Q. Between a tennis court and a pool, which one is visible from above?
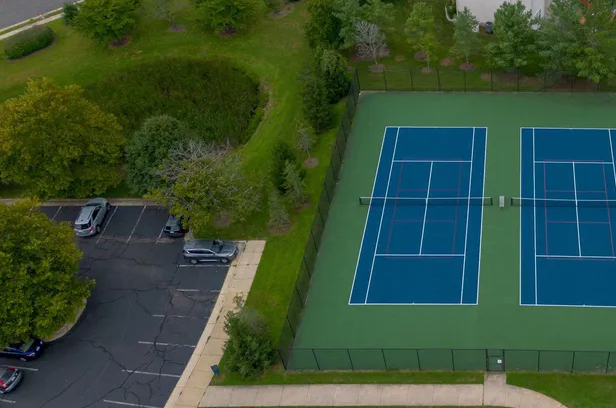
tennis court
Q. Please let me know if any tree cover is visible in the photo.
Yes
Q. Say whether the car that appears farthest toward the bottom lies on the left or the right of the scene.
left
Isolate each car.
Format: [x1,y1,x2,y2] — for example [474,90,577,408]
[181,234,239,261]
[69,196,111,238]
[159,204,188,235]
[0,330,49,358]
[0,364,28,393]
